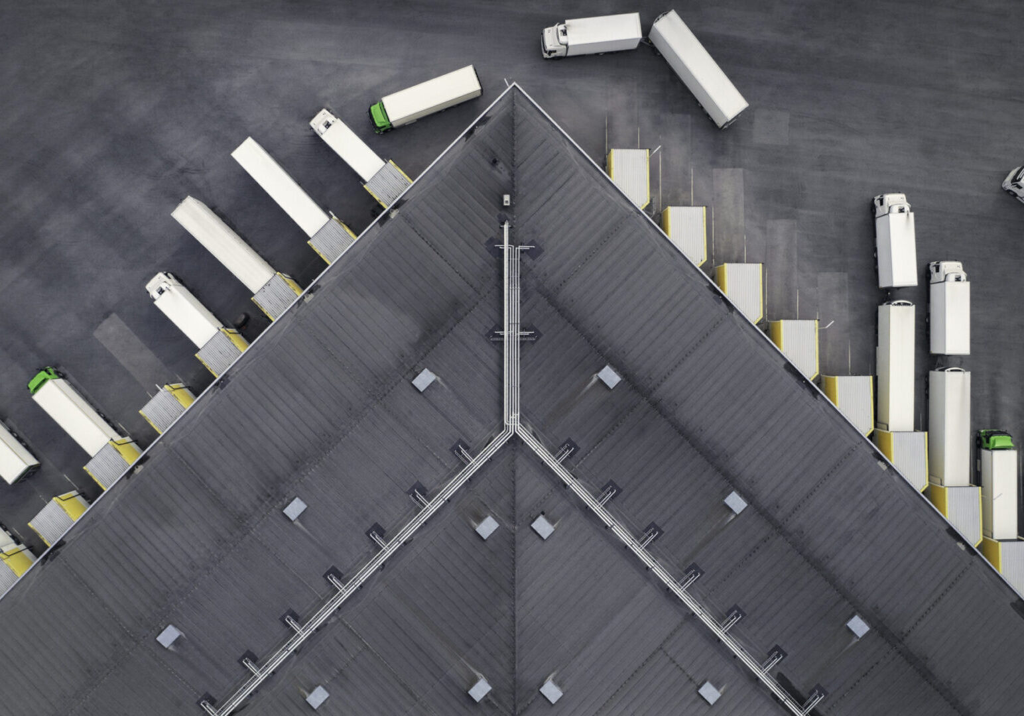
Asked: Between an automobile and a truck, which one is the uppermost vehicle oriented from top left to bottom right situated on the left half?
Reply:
truck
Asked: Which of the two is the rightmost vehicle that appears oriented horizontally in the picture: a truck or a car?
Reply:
truck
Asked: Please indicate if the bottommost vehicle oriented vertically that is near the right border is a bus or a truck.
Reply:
truck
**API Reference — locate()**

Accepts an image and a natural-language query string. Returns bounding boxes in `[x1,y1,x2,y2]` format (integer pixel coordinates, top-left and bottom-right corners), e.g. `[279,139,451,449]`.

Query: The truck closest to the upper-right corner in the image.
[1002,172,1024,210]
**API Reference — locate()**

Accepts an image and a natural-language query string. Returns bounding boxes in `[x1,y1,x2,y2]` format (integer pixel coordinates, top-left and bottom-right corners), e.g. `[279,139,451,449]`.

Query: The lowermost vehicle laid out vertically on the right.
[970,424,1018,538]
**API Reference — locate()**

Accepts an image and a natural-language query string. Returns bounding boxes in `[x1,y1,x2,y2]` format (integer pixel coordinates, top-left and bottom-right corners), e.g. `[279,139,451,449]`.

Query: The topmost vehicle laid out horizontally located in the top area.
[542,12,642,60]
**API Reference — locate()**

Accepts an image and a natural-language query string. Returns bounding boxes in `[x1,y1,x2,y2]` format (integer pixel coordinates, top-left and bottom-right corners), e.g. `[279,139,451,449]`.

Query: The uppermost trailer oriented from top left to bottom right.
[645,9,748,129]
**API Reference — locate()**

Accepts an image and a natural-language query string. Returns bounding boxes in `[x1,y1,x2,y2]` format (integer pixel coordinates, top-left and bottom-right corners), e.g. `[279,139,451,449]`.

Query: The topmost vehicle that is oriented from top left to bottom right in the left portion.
[309,107,385,182]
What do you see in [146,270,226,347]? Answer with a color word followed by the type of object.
white truck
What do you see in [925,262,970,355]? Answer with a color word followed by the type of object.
white truck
